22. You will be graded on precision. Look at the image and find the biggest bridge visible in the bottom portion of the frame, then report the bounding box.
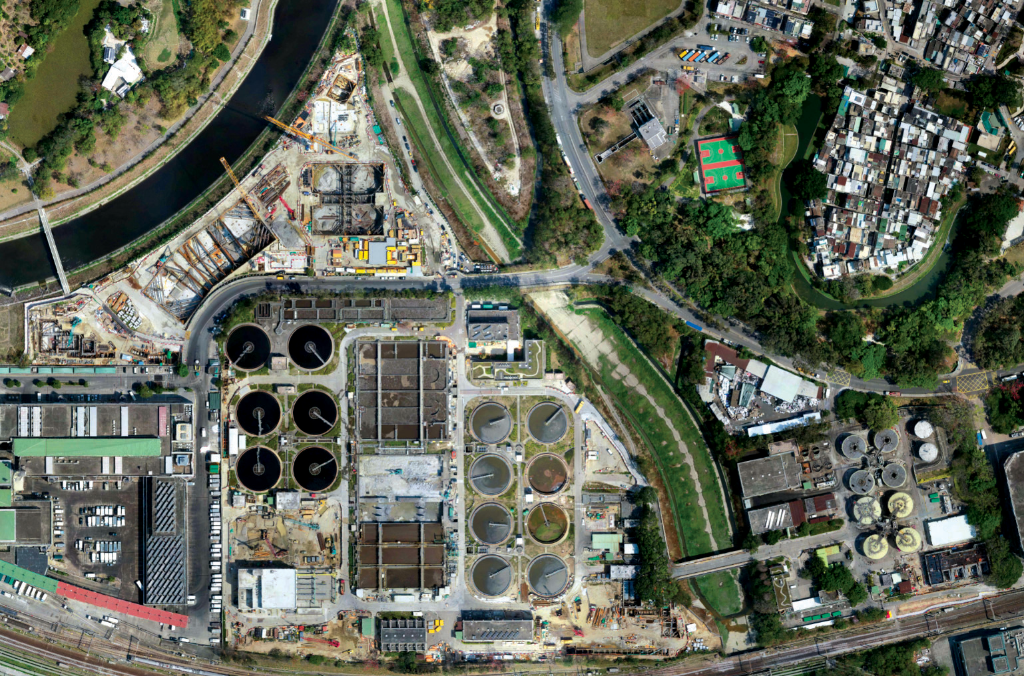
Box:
[673,548,752,580]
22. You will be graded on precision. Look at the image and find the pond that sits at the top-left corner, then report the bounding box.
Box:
[8,0,102,147]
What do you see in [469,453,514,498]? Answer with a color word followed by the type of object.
gray storage tank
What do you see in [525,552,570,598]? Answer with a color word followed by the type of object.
gray storage tank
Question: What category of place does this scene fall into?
residential area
